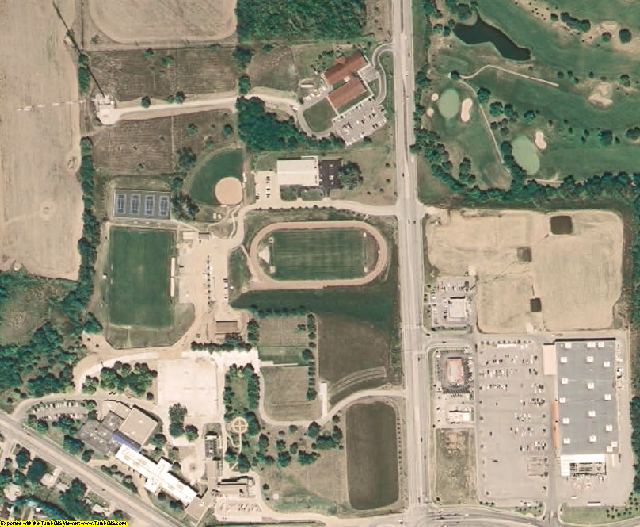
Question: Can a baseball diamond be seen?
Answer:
Yes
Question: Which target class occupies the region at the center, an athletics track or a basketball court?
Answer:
athletics track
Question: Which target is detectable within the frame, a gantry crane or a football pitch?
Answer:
football pitch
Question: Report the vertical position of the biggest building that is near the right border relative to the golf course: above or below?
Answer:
below it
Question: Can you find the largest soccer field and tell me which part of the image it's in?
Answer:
left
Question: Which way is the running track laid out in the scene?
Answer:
from left to right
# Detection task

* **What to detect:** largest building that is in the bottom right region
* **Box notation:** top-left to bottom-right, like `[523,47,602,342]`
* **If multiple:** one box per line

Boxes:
[543,338,618,476]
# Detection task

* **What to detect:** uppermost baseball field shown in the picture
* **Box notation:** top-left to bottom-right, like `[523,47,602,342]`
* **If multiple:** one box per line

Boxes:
[184,146,243,208]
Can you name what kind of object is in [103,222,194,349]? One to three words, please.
soccer field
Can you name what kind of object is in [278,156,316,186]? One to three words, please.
building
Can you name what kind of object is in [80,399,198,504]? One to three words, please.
building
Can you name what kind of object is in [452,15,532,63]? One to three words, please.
pond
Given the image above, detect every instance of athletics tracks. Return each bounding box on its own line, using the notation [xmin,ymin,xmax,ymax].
[249,221,388,289]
